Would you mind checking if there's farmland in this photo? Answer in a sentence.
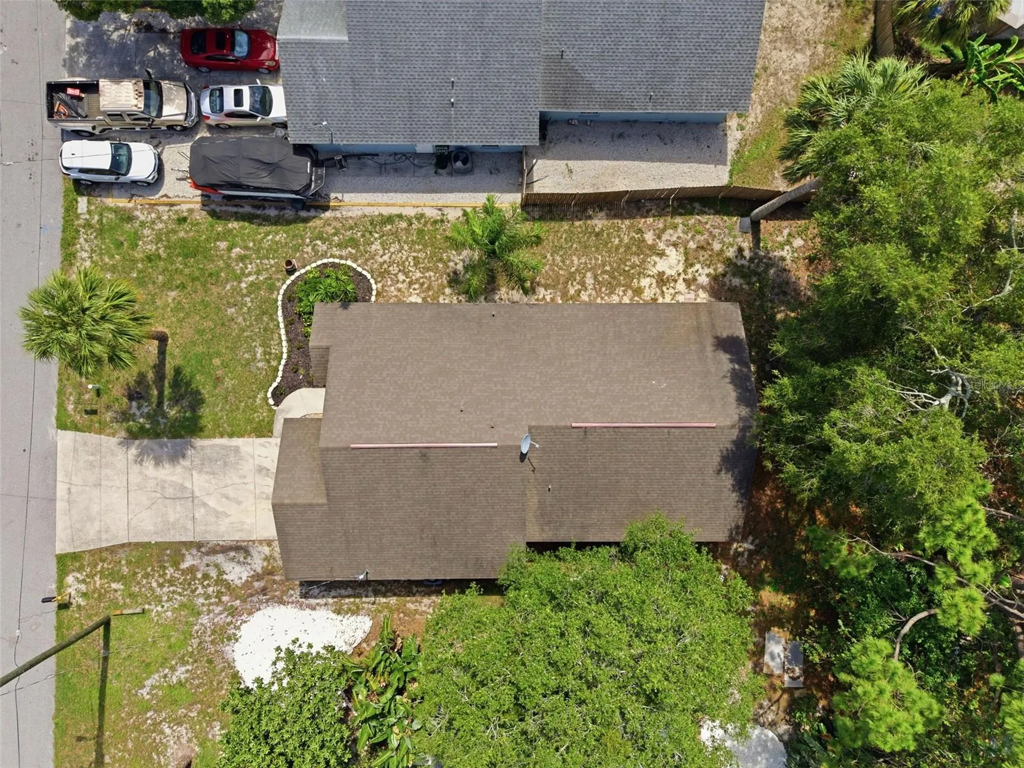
No, there's no farmland in this view.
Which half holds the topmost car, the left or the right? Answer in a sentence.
The topmost car appears in the left half of the scene.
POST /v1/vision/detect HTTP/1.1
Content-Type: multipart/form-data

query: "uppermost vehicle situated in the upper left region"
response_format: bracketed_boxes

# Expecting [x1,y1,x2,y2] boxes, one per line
[179,21,281,76]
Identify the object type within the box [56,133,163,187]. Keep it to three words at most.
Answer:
car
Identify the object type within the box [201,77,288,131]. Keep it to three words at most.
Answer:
car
